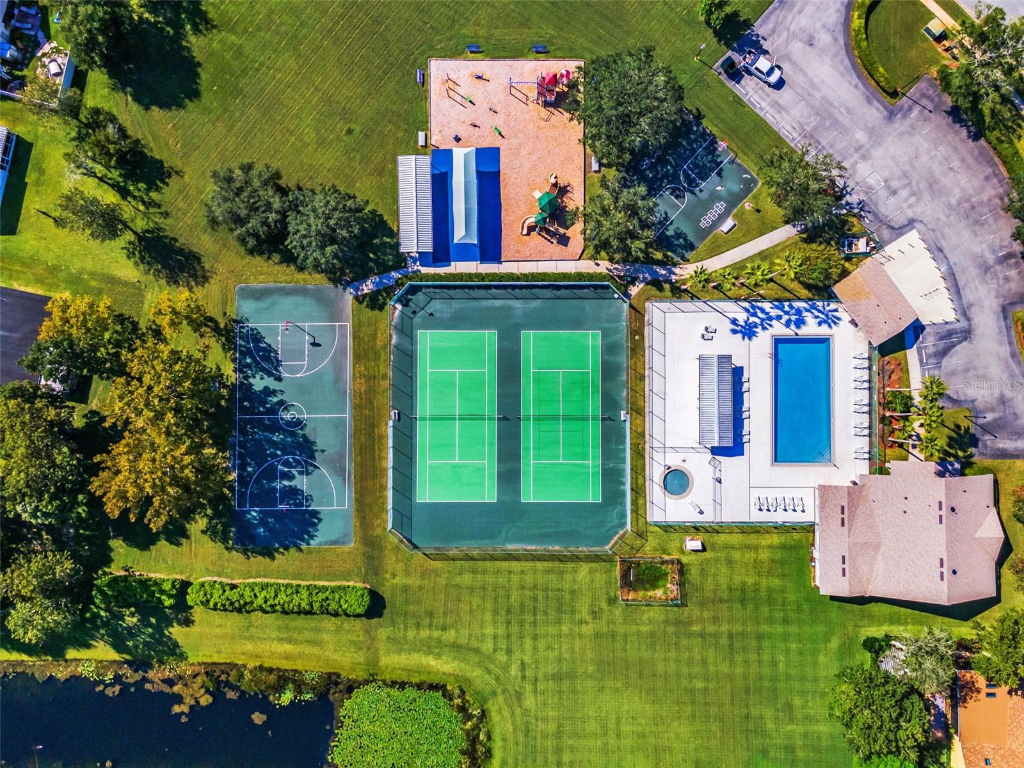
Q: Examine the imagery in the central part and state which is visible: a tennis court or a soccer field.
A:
tennis court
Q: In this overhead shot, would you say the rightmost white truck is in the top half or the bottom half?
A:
top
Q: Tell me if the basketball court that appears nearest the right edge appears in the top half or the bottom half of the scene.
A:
top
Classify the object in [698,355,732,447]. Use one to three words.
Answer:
building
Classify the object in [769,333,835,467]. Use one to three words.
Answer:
swimming pool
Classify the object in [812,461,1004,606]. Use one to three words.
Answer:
building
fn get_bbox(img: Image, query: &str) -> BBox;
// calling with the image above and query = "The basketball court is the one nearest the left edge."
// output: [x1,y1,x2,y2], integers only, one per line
[235,285,353,547]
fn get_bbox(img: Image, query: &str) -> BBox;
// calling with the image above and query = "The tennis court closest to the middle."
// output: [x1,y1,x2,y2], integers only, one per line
[392,286,628,548]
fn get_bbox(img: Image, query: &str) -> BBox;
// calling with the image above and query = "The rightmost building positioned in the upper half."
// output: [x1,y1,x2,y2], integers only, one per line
[832,257,917,346]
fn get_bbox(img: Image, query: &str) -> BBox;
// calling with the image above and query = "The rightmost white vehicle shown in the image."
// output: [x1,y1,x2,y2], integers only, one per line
[742,48,785,87]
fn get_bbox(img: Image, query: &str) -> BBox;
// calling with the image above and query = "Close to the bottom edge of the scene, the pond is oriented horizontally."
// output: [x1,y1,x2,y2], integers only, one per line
[0,664,486,768]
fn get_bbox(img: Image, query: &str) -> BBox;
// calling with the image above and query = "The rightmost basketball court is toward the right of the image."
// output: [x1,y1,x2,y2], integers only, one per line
[617,111,760,260]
